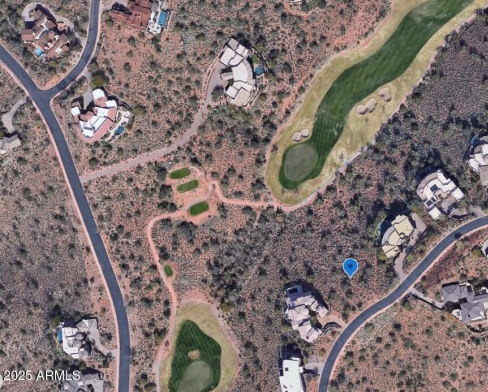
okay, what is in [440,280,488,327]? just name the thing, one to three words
house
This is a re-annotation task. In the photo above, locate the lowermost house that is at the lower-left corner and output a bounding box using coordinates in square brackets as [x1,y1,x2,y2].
[62,372,101,392]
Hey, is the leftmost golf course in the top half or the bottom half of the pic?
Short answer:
bottom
